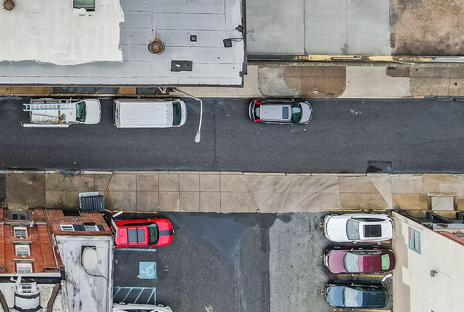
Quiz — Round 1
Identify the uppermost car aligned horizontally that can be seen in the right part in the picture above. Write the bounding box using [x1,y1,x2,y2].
[247,96,311,128]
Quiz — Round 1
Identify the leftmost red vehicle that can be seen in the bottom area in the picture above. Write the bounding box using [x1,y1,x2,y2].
[111,218,173,253]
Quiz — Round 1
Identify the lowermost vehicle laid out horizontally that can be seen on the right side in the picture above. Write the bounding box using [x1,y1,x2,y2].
[324,279,390,312]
